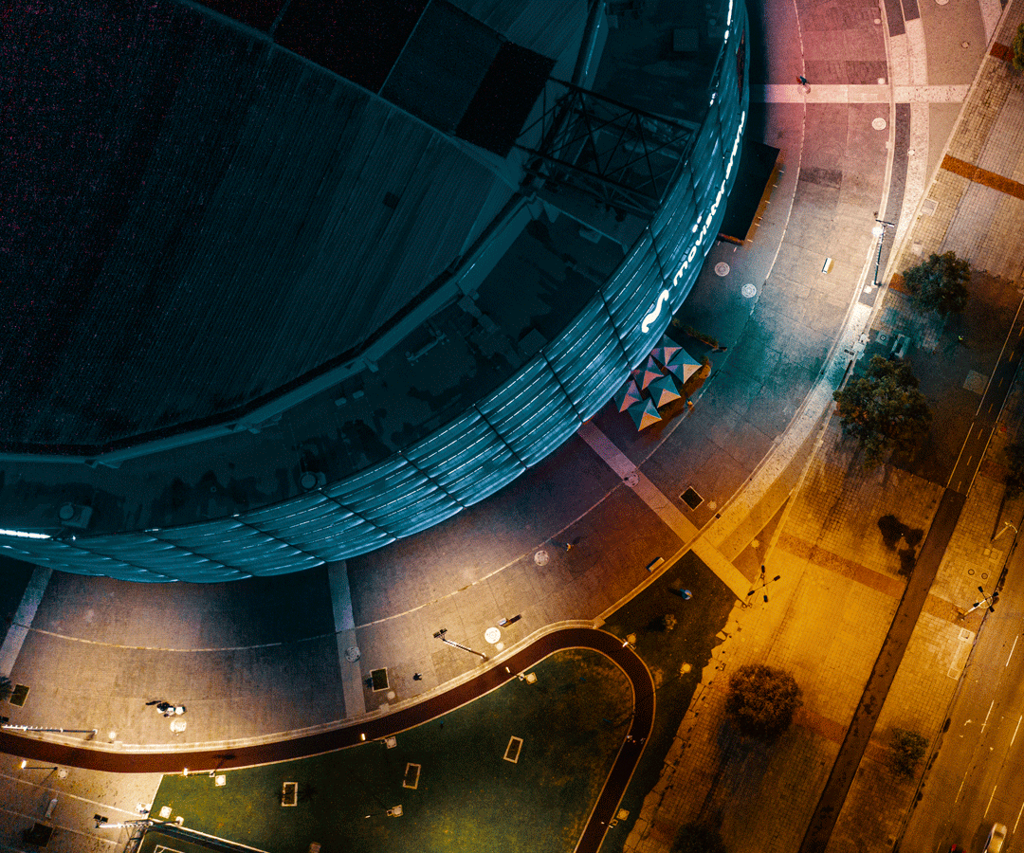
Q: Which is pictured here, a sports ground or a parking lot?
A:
sports ground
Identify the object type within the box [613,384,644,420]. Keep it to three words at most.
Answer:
tent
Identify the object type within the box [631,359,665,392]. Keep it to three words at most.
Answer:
tent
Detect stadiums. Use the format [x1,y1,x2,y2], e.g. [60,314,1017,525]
[0,0,755,589]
